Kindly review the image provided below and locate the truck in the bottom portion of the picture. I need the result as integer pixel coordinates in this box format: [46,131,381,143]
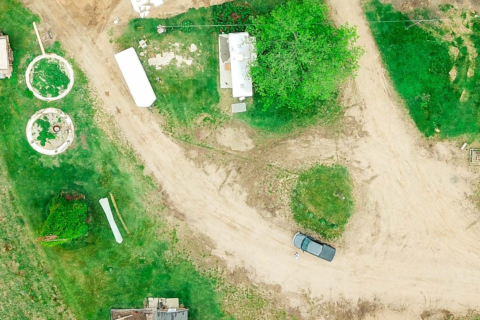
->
[294,234,337,263]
